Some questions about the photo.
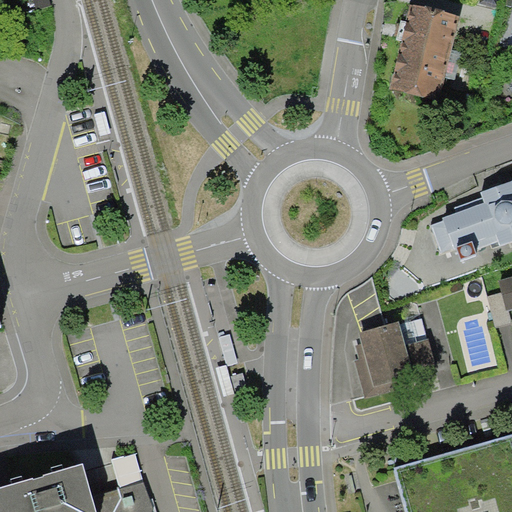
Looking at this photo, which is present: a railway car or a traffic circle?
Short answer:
traffic circle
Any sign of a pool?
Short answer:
Yes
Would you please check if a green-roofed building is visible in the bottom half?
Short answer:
Yes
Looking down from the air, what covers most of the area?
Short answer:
paved ground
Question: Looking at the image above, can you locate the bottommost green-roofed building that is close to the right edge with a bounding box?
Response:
[394,436,512,512]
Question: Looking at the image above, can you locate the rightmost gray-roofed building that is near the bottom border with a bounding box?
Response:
[112,480,156,512]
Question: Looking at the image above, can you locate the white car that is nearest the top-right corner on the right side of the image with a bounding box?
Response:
[366,218,381,242]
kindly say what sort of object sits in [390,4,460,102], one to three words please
house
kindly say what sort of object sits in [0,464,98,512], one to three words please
building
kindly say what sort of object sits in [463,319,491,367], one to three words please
swimming pool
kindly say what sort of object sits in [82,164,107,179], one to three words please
car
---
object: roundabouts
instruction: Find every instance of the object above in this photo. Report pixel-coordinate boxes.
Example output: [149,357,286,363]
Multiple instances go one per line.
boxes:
[238,136,392,290]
